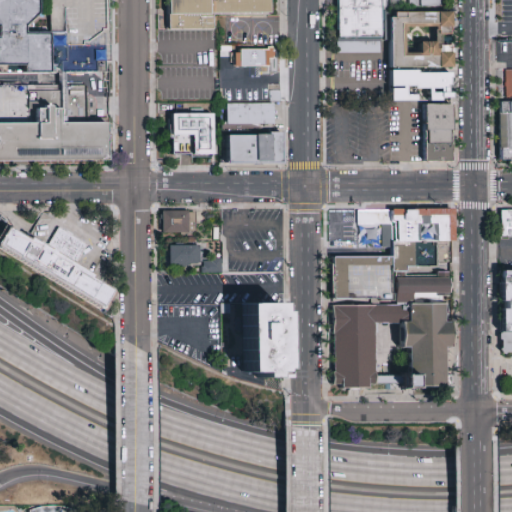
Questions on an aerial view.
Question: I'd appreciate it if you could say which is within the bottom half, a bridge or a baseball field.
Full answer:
The feature located within the bottom half is a bridge.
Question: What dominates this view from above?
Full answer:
Most of the picture is covered by paved ground.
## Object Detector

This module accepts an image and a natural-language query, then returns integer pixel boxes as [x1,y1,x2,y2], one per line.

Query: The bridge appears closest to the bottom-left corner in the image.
[114,328,160,508]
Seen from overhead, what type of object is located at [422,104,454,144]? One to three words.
building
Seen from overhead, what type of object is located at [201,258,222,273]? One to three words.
house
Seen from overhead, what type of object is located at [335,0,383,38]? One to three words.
building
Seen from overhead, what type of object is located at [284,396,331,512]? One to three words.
bridge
